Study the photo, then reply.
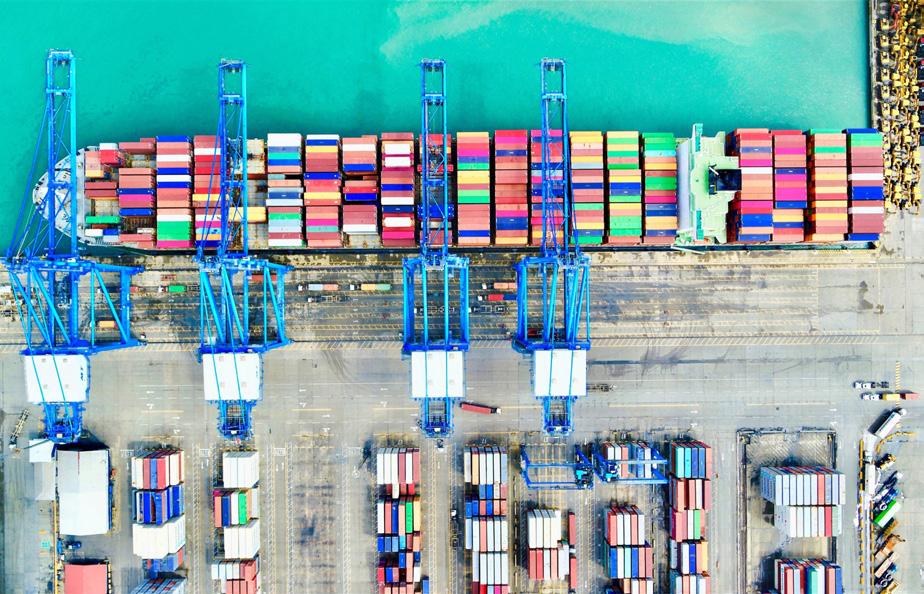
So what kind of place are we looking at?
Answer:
port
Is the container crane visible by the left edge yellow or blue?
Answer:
blue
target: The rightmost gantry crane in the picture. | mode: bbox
[596,442,670,487]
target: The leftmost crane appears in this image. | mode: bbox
[1,51,143,442]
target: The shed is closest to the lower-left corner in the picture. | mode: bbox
[63,561,112,594]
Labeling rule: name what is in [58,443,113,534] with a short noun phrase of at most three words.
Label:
shed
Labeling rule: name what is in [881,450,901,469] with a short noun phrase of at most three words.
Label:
work vehicle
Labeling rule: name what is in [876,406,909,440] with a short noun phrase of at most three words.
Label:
truck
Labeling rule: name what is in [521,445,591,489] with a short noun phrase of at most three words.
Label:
container crane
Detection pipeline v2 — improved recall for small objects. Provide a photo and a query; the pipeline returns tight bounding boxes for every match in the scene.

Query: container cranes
[194,61,294,441]
[521,445,591,489]
[596,442,670,487]
[401,60,471,439]
[510,59,592,437]
[1,51,143,442]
